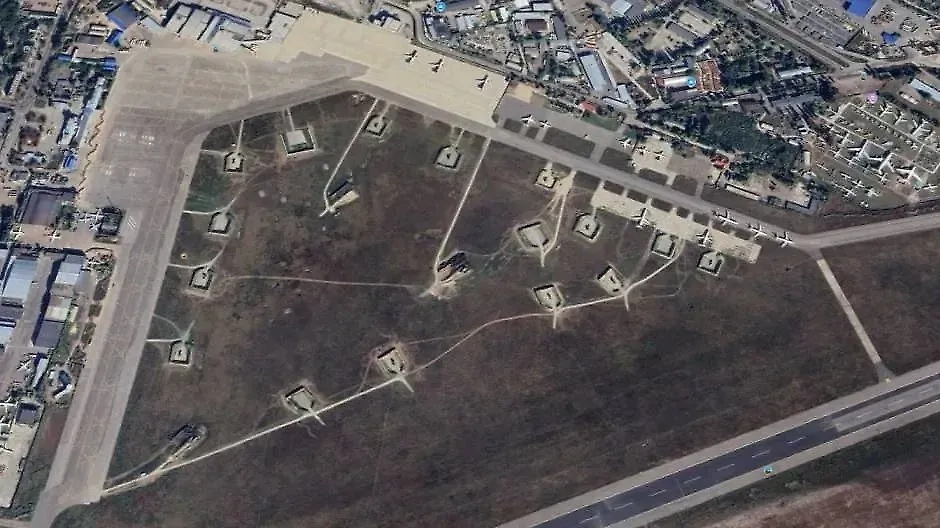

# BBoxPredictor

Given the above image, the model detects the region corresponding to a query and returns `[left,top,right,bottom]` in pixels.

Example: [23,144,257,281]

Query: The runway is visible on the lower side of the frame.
[498,361,940,528]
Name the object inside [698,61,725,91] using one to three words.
building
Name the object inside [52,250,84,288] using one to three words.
building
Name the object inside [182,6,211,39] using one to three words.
hangar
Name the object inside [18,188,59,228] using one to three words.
hangar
